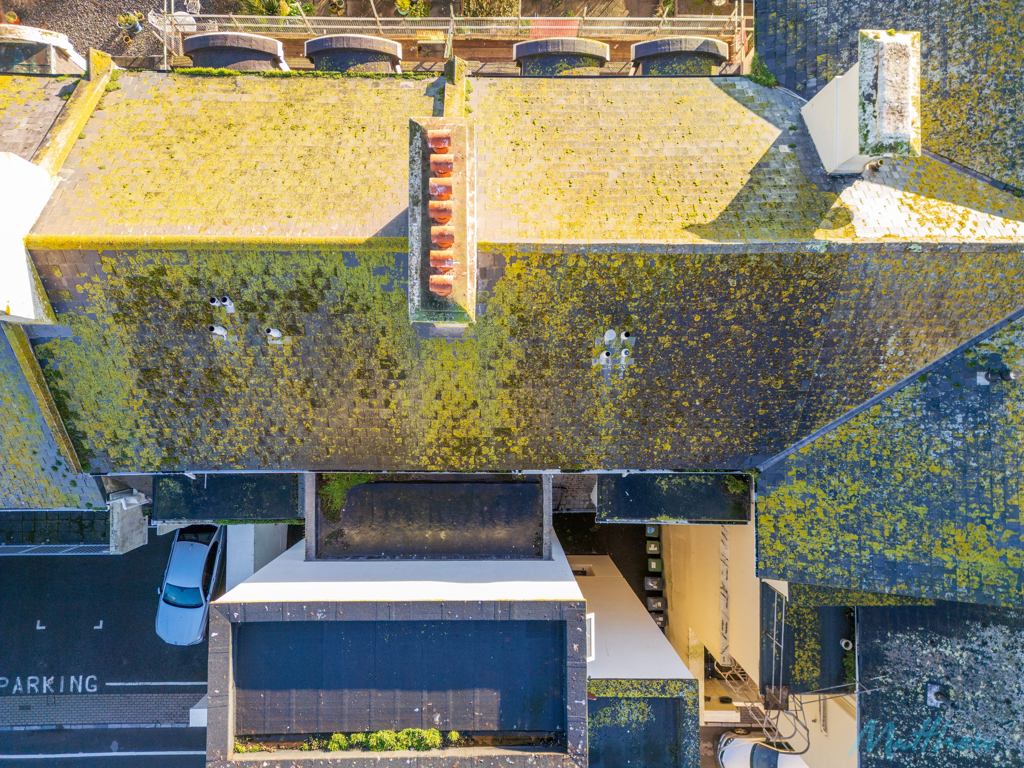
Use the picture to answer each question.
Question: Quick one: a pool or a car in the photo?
car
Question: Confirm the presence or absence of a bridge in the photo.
No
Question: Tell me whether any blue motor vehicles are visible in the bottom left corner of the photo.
Yes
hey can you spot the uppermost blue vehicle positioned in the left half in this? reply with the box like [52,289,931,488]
[151,525,227,641]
